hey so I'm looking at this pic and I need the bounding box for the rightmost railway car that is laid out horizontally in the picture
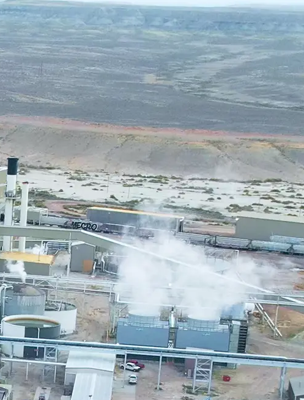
[267,242,304,258]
